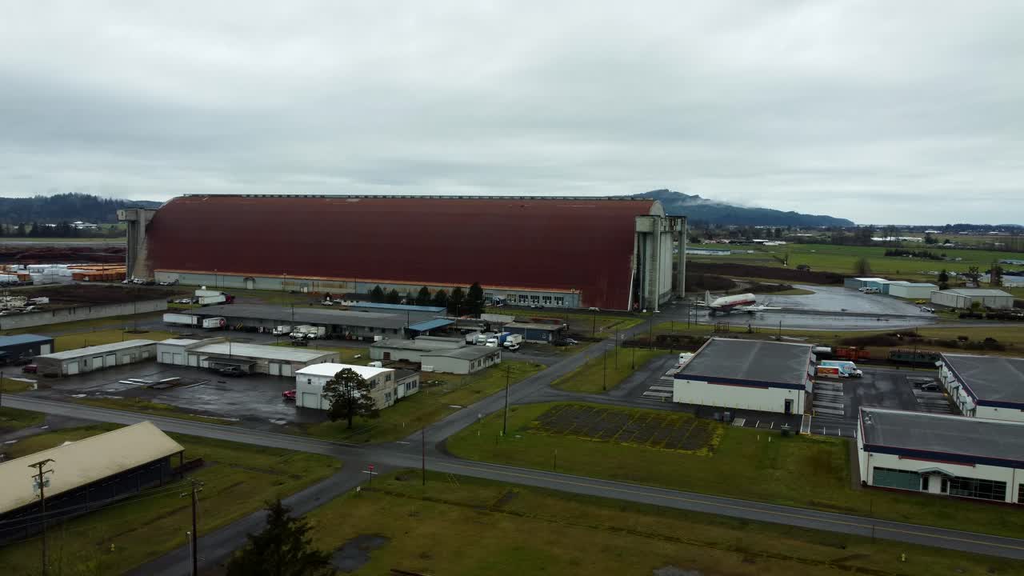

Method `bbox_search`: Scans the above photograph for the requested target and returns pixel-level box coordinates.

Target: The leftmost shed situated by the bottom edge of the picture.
[0,421,188,548]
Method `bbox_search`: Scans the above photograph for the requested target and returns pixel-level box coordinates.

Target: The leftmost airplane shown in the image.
[686,289,782,312]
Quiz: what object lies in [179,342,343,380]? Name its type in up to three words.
building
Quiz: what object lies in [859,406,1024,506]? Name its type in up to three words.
building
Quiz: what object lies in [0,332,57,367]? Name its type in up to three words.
shed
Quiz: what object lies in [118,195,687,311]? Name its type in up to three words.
hangar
